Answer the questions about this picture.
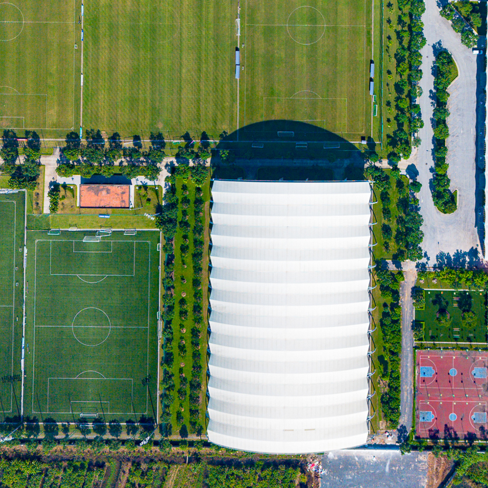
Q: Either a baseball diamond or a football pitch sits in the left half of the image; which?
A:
football pitch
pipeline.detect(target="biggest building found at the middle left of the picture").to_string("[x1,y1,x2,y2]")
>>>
[80,184,134,211]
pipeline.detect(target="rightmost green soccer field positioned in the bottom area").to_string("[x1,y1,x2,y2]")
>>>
[23,231,159,423]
